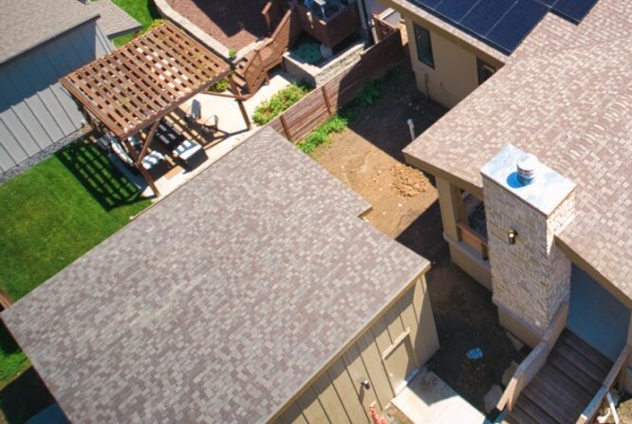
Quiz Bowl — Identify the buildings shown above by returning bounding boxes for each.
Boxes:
[0,126,440,424]
[0,0,160,177]
[383,0,632,403]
